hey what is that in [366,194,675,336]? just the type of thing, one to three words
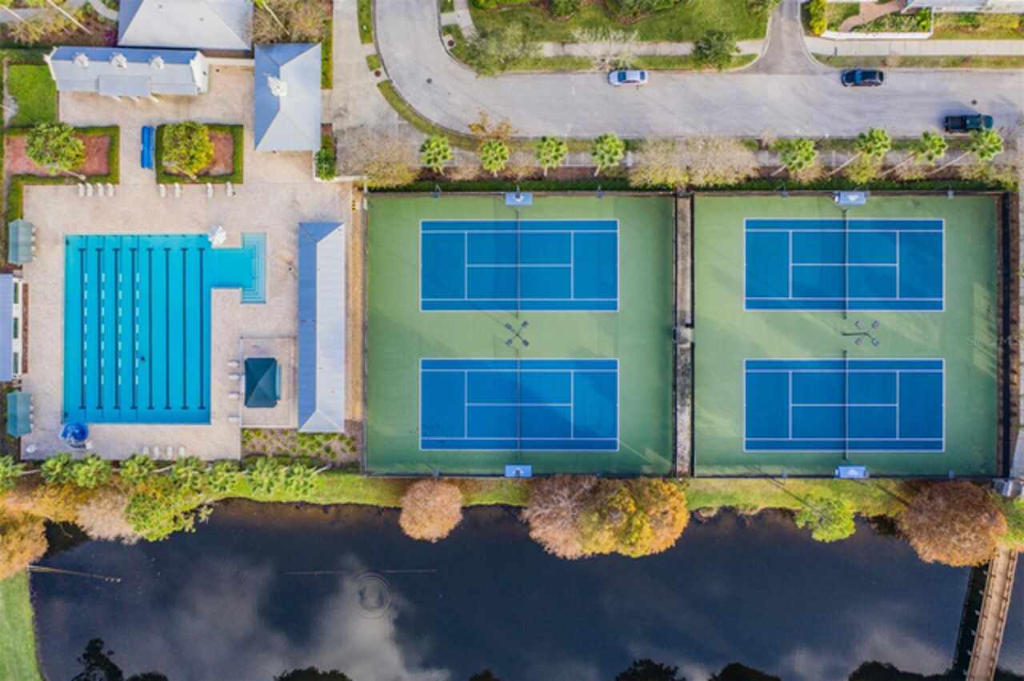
tennis court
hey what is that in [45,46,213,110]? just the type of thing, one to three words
building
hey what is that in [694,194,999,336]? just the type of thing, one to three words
tennis court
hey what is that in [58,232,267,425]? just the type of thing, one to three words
swimming pool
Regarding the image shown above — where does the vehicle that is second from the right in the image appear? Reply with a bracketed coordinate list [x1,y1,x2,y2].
[843,64,886,86]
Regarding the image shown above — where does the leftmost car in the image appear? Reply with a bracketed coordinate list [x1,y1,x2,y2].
[609,65,648,85]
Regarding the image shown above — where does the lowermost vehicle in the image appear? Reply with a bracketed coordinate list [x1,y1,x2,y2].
[946,111,996,132]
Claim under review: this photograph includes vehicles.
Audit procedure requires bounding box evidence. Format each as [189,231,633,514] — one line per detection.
[843,64,886,86]
[609,65,648,85]
[946,111,996,132]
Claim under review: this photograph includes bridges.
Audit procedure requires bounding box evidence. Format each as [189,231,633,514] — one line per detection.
[951,536,1022,681]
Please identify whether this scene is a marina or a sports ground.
sports ground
